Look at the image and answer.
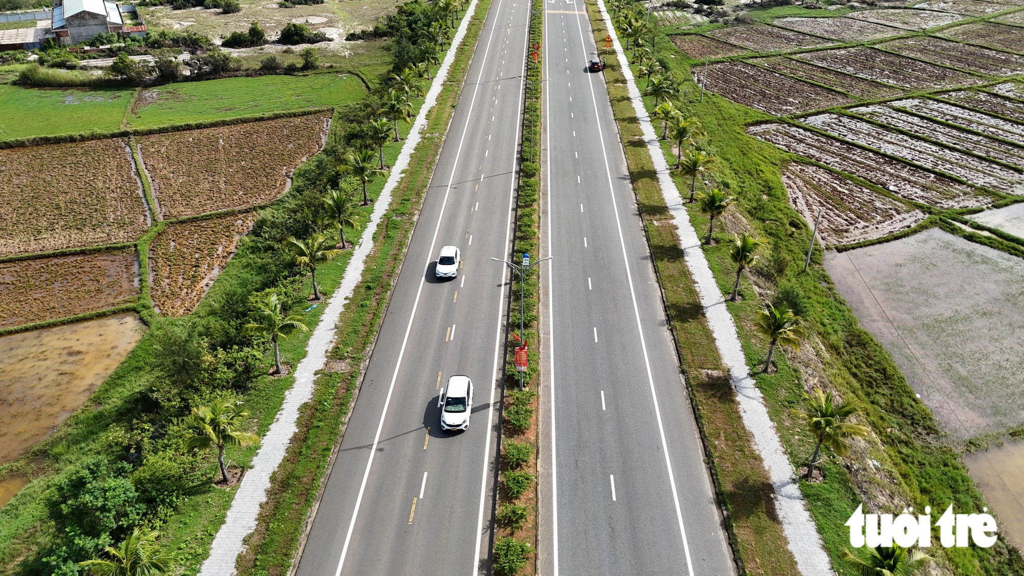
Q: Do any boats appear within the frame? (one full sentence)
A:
No, no boat is visible in the scene.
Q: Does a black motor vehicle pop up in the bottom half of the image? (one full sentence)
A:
No, the scene shows no black motor vehicle in the bottom half of the image.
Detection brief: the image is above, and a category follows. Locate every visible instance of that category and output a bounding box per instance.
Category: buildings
[0,28,42,47]
[44,0,131,43]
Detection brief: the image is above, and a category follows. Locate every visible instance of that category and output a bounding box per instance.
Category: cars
[590,58,603,69]
[438,376,473,432]
[434,245,461,279]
